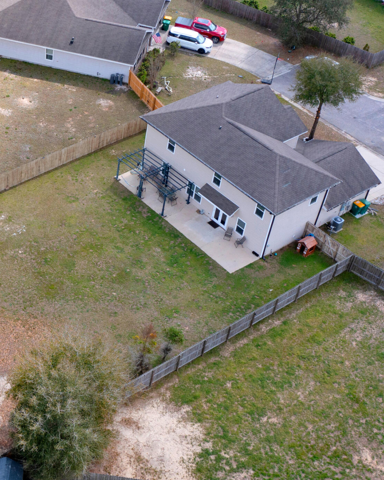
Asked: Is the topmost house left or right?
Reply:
left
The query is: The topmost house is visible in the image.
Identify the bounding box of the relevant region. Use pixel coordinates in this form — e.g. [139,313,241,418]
[0,0,169,81]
